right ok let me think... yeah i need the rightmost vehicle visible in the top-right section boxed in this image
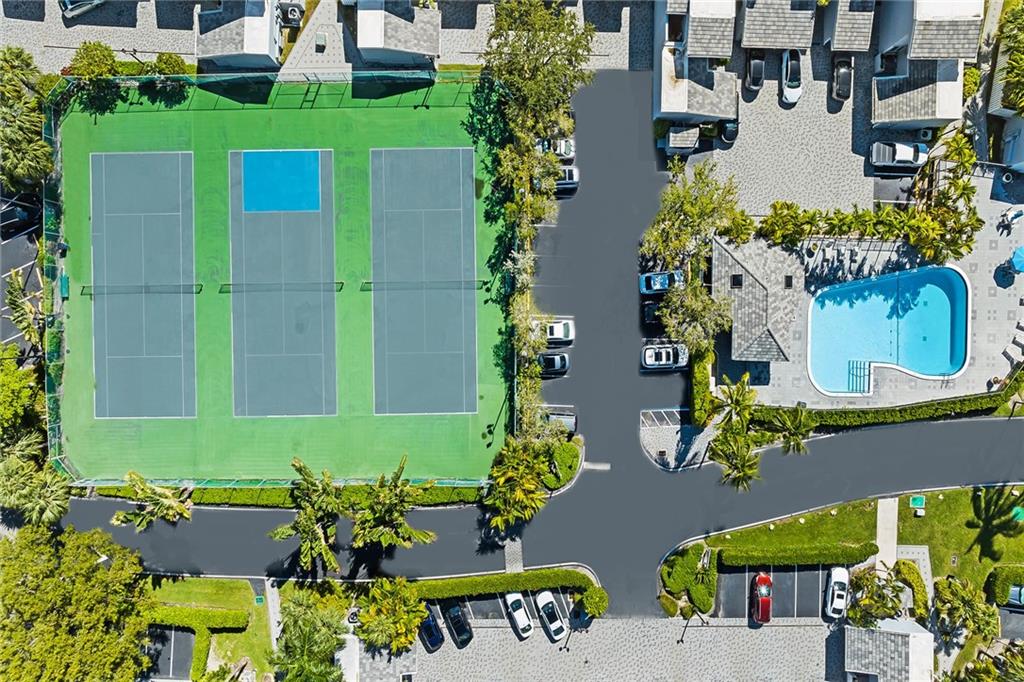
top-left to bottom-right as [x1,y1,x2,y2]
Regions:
[867,136,931,168]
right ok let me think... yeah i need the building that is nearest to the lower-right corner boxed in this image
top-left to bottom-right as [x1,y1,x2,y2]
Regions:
[845,617,933,682]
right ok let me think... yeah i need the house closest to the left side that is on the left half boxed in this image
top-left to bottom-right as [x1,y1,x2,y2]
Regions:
[192,0,292,69]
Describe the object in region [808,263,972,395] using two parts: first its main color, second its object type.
blue swimming pool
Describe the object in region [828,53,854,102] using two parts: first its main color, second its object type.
black car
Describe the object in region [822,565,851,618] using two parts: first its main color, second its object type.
white car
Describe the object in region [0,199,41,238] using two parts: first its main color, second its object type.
black car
